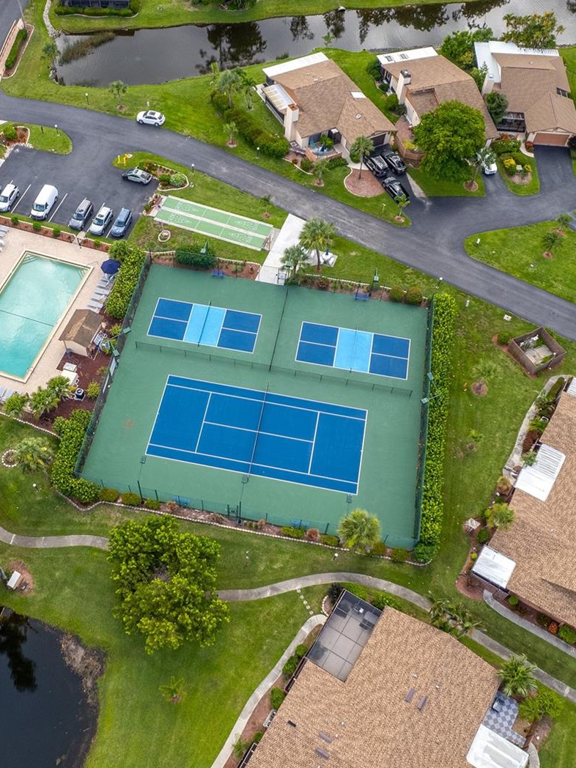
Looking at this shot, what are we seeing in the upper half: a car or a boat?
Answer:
car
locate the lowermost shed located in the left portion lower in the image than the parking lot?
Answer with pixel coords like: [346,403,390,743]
[58,309,103,355]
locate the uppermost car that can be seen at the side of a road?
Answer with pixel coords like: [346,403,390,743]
[134,110,167,128]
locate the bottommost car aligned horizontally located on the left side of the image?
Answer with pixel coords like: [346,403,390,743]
[119,167,153,186]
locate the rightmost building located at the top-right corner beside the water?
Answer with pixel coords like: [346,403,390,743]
[474,40,576,147]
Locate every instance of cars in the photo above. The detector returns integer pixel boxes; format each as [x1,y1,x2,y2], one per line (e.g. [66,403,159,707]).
[69,196,94,229]
[89,203,113,235]
[134,110,167,128]
[109,205,133,236]
[381,151,409,177]
[119,167,153,186]
[384,175,410,199]
[0,180,18,211]
[479,156,499,179]
[362,152,390,178]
